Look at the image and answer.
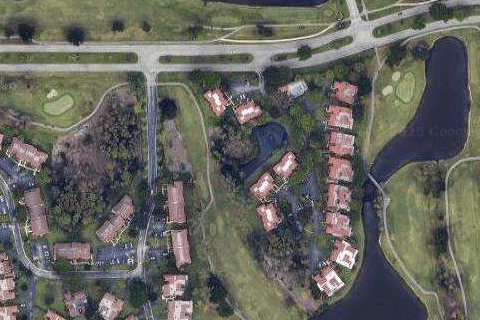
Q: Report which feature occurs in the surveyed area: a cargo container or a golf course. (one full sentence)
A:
The image shows a golf course.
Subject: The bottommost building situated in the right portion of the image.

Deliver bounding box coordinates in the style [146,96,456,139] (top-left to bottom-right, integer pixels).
[312,264,346,298]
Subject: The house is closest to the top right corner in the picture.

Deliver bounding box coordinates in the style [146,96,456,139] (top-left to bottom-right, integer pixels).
[332,79,359,103]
